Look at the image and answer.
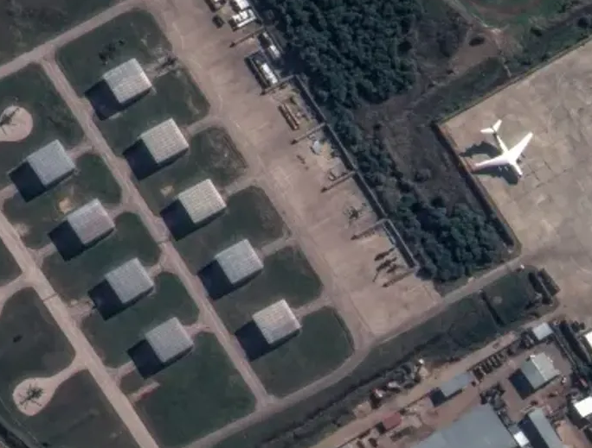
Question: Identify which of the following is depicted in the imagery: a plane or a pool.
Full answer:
It is a plane that can be seen here.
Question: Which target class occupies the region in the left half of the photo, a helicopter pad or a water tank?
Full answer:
It is a helicopter pad that can be seen in the left half of the photo.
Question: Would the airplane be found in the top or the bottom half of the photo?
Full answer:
You can find the airplane in the top half.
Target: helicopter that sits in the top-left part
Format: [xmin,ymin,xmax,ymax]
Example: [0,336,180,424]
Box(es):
[0,104,20,130]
